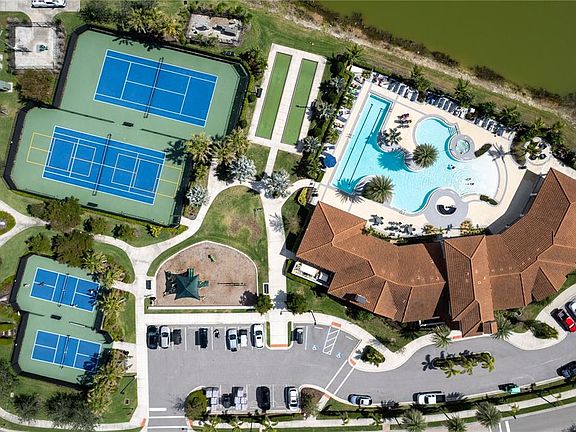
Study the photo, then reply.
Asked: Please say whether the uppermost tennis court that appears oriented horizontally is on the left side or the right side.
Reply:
left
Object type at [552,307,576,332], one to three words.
truck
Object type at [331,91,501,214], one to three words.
swimming pool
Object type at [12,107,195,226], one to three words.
tennis court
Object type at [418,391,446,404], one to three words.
vehicle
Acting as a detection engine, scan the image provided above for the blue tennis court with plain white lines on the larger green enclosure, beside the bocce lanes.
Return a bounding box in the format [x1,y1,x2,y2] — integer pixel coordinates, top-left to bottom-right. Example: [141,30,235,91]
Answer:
[58,30,248,148]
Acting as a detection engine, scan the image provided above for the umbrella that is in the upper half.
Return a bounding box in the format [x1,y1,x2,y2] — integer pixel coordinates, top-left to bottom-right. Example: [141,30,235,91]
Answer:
[323,154,337,168]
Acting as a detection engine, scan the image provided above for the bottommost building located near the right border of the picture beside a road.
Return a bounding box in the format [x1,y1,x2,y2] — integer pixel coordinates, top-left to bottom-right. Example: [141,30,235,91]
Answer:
[442,168,576,338]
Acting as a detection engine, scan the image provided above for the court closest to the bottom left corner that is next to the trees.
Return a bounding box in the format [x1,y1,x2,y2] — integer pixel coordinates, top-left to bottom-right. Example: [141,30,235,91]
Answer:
[20,315,112,392]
